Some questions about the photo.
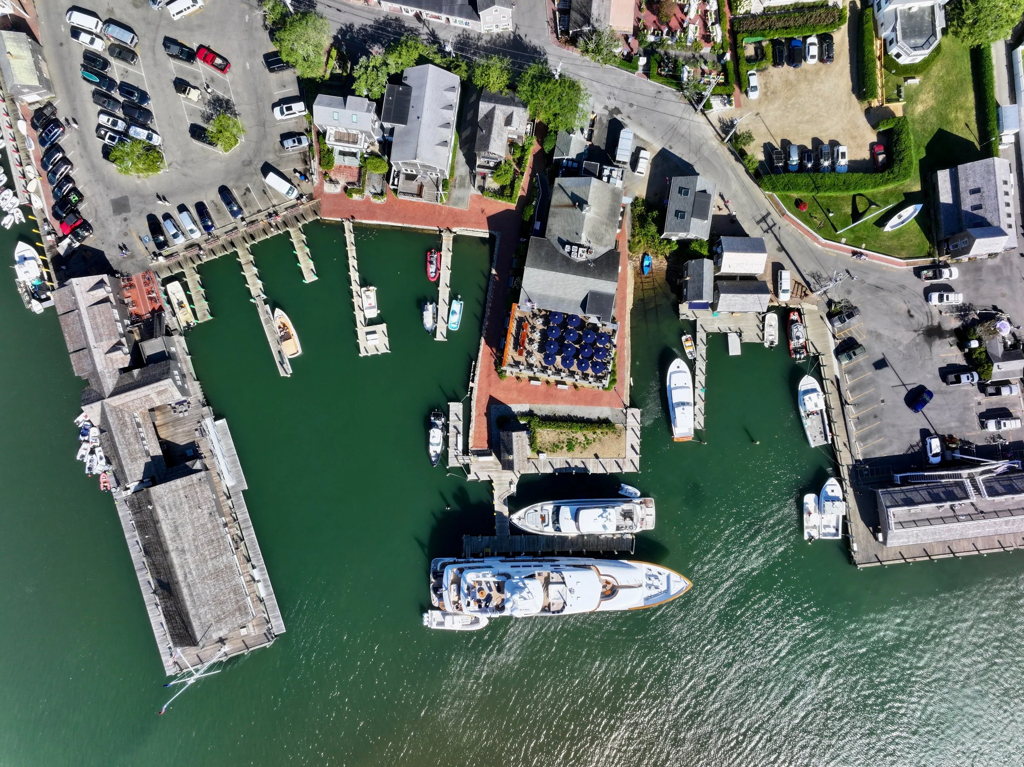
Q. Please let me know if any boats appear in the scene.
Yes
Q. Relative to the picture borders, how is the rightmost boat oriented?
diagonally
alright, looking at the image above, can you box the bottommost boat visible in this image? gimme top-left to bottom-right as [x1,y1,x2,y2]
[425,610,488,630]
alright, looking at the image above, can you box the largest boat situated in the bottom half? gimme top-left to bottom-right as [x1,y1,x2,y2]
[431,554,695,617]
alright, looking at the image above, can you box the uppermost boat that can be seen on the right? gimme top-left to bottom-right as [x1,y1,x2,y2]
[881,204,923,232]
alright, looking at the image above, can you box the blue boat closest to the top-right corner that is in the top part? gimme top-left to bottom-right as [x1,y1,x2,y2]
[641,255,653,276]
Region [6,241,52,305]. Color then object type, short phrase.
white boat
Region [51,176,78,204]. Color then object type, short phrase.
black car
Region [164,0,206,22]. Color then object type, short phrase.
white vehicle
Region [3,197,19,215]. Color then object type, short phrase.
white boat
